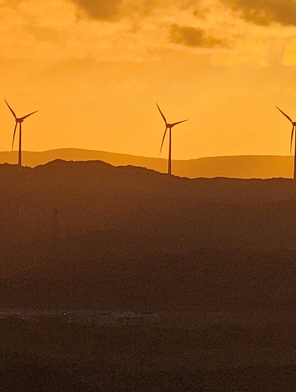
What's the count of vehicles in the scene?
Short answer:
none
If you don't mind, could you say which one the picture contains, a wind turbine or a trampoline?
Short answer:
wind turbine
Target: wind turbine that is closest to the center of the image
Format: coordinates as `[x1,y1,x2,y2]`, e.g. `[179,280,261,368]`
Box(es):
[155,103,187,175]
